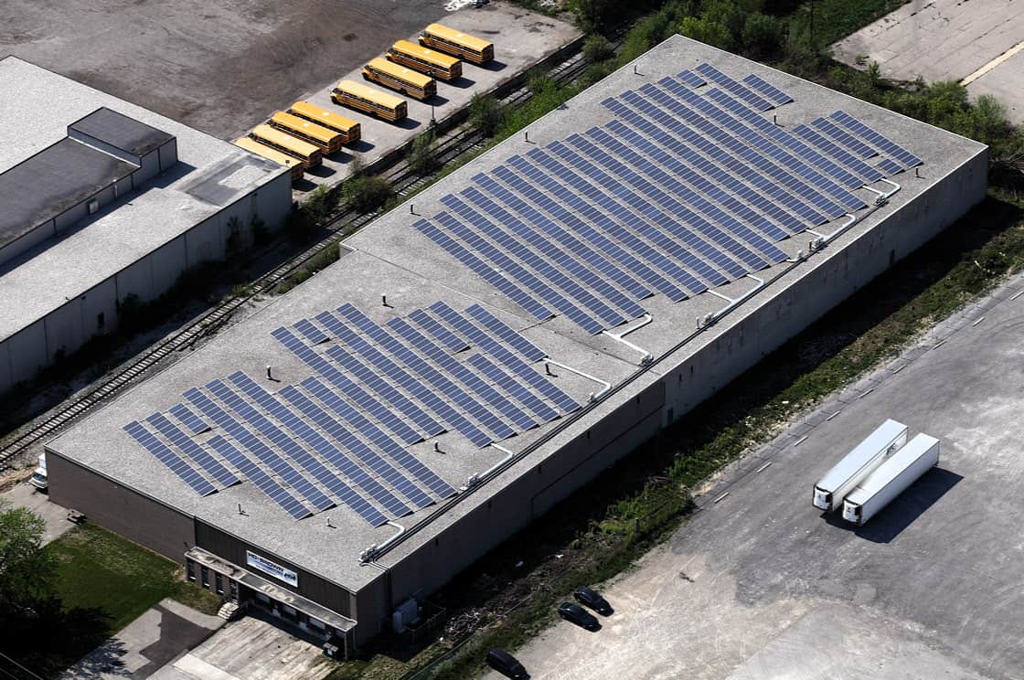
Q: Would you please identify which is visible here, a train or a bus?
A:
bus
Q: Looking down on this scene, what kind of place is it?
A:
industrial area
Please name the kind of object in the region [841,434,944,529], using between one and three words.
trailer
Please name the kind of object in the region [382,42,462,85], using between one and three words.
bus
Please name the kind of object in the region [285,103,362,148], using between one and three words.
bus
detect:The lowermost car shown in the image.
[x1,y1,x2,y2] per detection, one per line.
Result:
[482,644,526,677]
